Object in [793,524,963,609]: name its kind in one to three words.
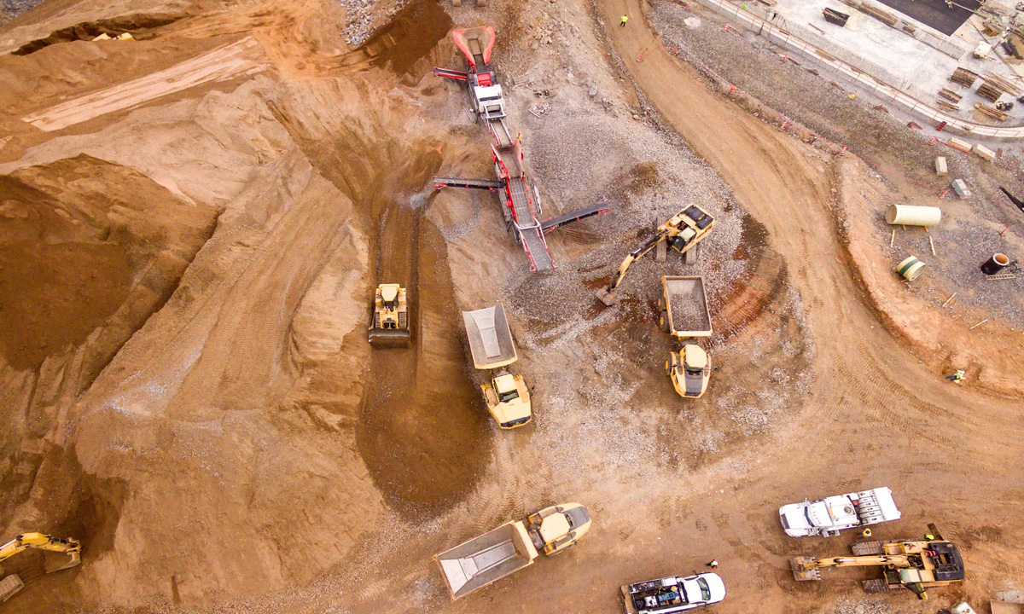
work vehicle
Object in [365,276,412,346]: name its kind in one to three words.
work vehicle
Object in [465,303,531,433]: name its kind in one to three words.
truck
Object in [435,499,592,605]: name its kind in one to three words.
truck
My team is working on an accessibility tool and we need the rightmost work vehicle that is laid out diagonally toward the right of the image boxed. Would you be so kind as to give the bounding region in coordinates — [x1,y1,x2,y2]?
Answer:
[601,200,716,303]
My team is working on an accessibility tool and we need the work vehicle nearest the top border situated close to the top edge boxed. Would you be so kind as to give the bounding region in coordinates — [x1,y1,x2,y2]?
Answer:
[109,29,156,46]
